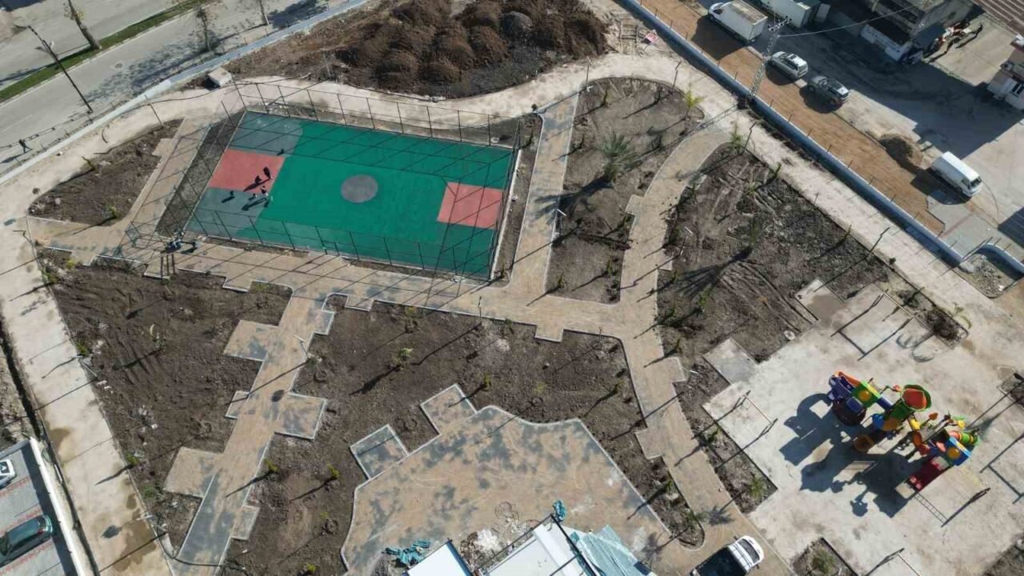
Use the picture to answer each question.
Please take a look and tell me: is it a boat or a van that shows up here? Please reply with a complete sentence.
The image shows a van.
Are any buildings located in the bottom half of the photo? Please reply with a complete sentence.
Yes, a building shows up in the bottom half of the photo.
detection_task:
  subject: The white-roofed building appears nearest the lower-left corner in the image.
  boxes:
[408,534,486,576]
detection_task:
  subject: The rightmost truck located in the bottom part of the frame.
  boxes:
[684,537,764,576]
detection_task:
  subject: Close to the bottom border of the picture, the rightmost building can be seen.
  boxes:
[469,513,598,576]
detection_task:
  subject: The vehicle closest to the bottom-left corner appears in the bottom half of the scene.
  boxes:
[0,514,59,569]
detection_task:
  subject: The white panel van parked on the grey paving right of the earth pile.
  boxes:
[930,147,987,196]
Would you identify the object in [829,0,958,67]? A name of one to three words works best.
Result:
building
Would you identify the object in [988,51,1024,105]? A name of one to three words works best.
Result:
house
